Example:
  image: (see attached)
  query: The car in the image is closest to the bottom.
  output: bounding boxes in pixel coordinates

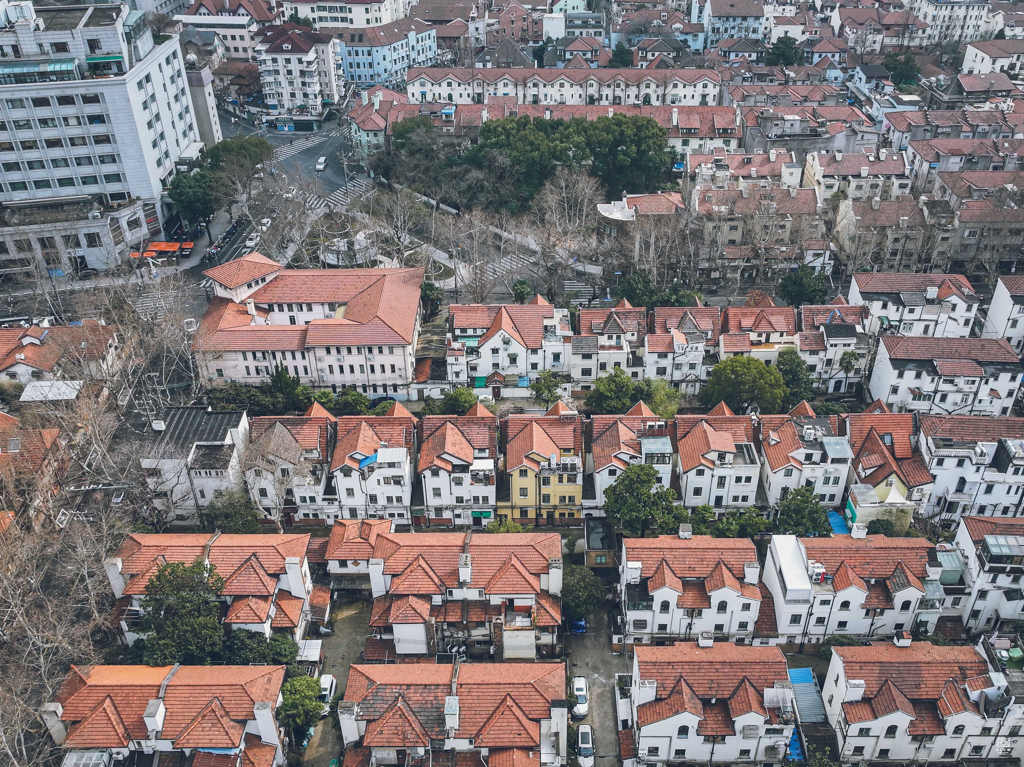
[575,724,597,767]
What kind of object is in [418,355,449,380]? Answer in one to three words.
shed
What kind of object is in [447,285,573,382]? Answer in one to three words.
house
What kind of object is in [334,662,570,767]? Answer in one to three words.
house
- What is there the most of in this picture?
buildings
